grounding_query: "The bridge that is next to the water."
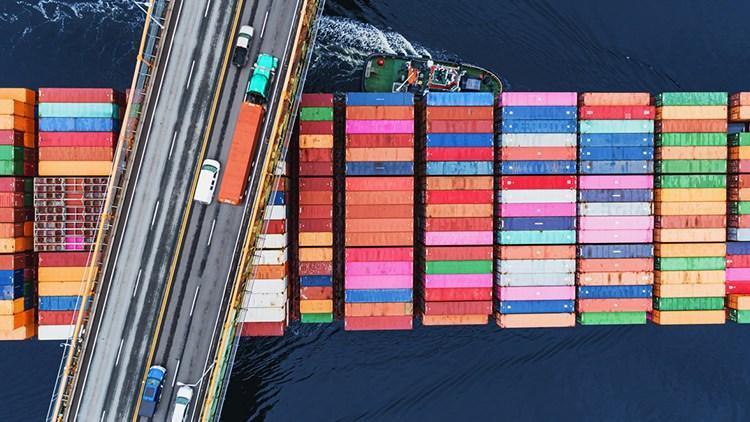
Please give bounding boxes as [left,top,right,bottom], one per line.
[45,0,324,422]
